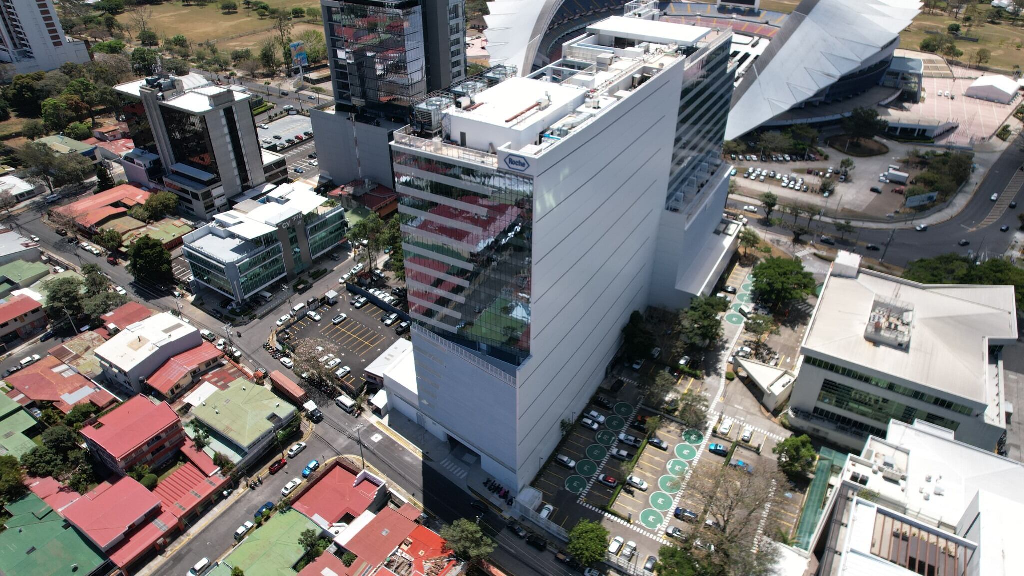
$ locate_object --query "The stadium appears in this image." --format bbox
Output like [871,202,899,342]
[496,0,930,140]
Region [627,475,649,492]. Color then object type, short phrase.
white car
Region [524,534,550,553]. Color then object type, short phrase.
black car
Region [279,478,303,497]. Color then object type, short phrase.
white car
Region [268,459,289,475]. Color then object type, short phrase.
red car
